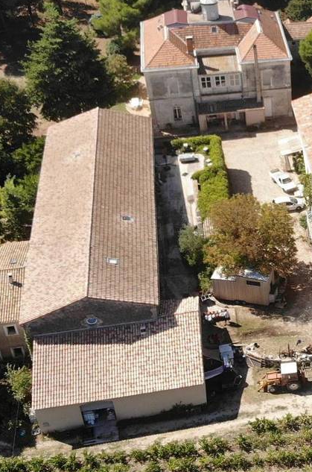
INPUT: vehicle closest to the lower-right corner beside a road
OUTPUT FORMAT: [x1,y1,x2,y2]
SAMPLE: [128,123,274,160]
[256,362,307,393]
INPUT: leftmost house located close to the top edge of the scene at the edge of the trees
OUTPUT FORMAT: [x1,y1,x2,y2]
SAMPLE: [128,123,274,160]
[140,0,296,133]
